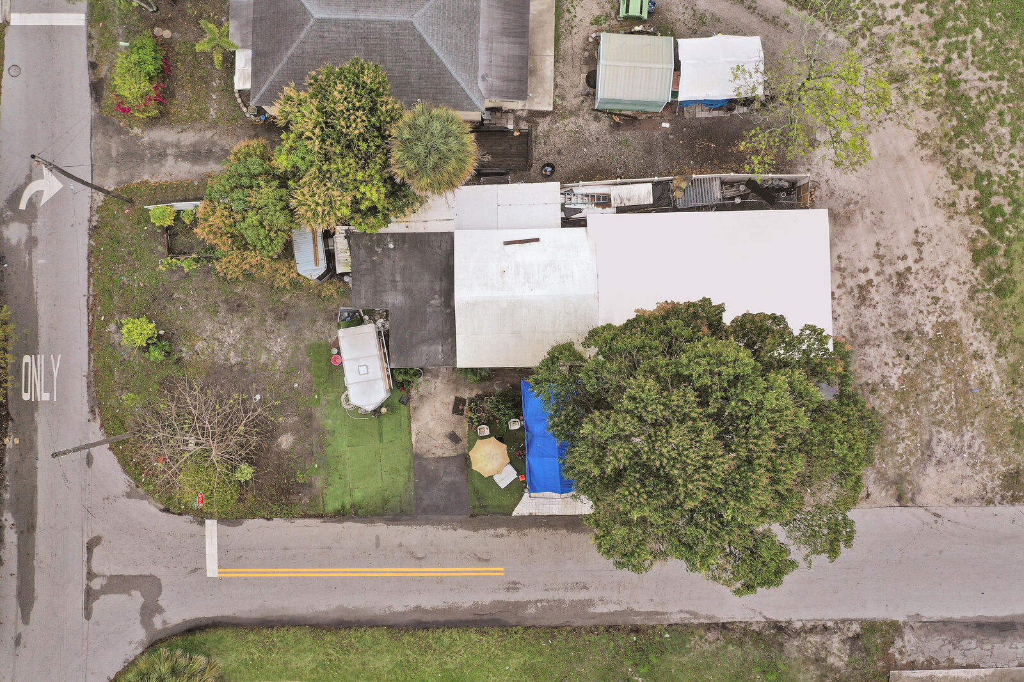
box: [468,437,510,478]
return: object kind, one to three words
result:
umbrella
